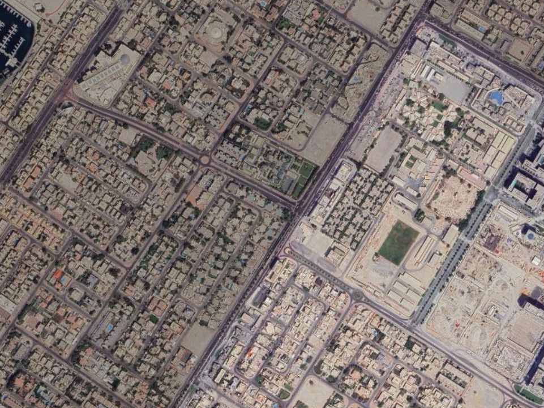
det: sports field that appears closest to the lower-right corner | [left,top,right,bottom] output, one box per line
[378,220,420,266]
